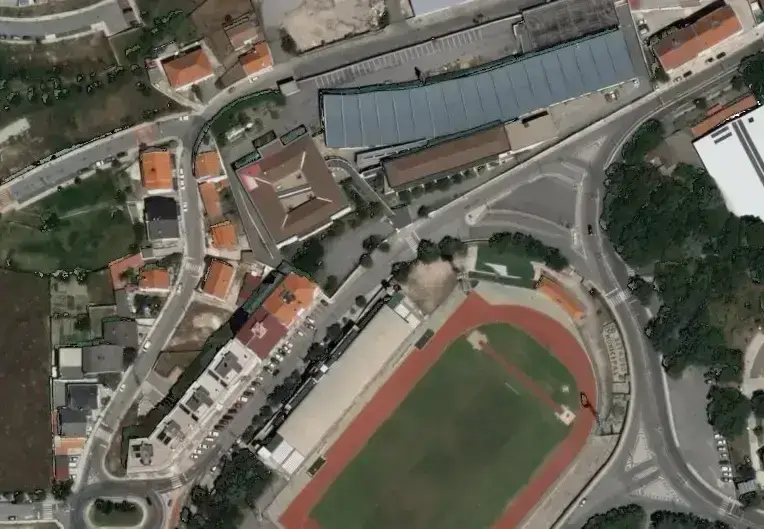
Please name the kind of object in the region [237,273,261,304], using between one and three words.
shed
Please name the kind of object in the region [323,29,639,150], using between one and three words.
building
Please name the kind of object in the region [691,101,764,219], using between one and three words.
building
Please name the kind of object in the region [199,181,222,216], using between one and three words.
house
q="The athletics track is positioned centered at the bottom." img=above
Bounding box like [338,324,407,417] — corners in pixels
[270,292,598,529]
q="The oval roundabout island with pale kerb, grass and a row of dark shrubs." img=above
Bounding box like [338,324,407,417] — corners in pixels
[87,497,146,529]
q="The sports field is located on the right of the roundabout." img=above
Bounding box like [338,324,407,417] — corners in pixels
[301,323,578,529]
